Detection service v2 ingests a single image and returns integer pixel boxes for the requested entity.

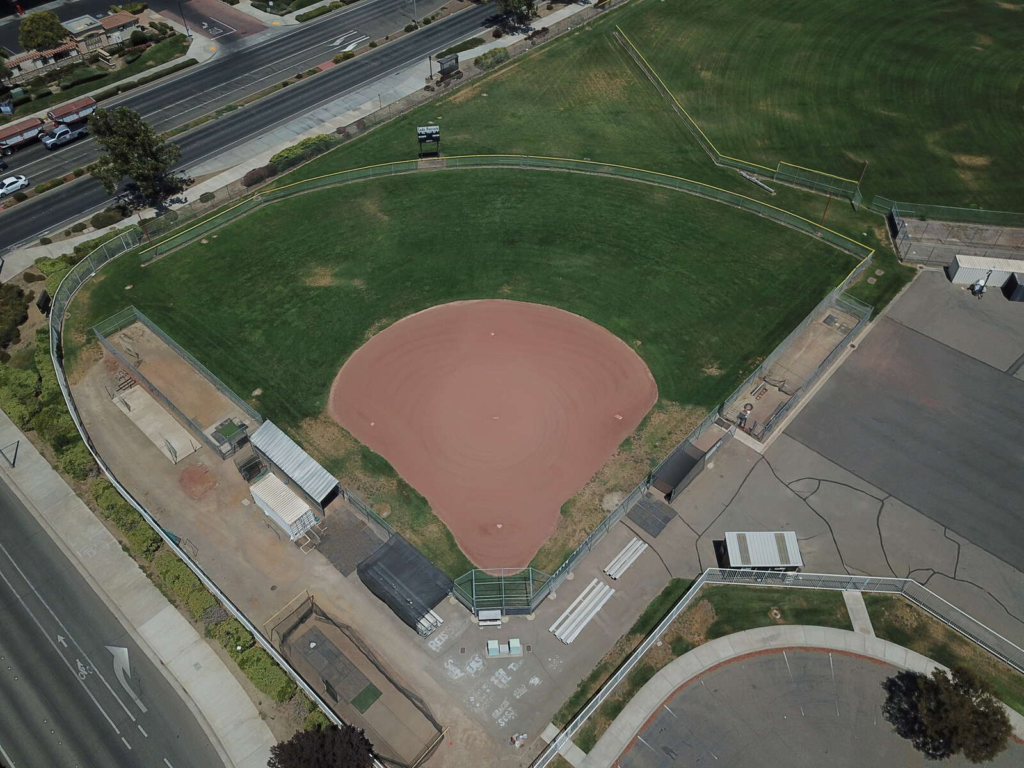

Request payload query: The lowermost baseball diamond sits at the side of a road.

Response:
[64,167,872,608]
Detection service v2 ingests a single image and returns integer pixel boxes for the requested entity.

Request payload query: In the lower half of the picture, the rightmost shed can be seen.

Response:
[722,534,806,581]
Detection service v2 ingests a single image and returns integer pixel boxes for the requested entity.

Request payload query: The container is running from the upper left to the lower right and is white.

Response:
[249,472,315,539]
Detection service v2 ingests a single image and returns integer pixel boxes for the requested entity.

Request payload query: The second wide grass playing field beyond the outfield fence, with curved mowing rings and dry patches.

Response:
[139,0,1024,317]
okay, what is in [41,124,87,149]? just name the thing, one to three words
truck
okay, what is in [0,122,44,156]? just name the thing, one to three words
trailer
